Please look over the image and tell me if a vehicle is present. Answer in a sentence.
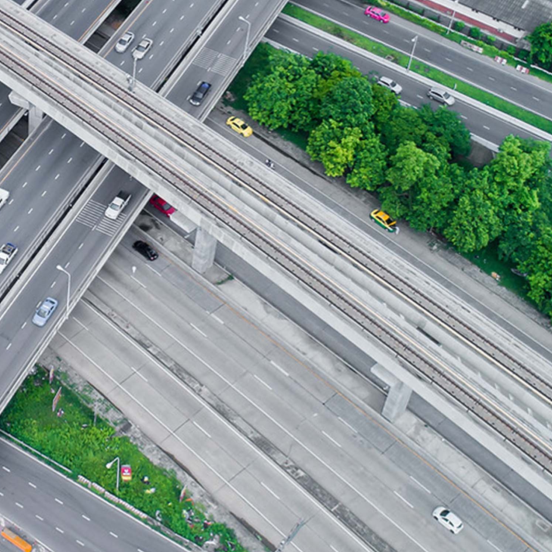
Yes, there's a vehicle here.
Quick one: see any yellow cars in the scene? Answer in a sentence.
Yes, the picture does show a yellow car.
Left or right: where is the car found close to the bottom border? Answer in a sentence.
You can find the car found close to the bottom border on the right side of the picture.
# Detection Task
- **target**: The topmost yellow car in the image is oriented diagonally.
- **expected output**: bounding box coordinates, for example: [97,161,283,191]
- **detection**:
[226,116,254,137]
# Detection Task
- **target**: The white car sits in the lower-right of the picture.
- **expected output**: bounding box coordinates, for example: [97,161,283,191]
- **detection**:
[430,504,469,537]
